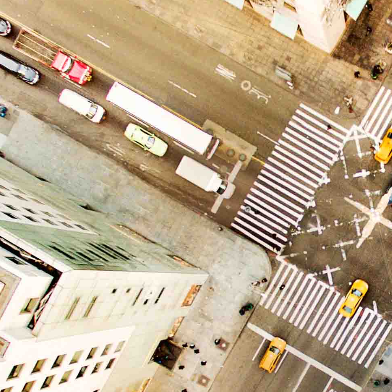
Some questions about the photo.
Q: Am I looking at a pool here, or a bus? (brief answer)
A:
bus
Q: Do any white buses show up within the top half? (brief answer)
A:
Yes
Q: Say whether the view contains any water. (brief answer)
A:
No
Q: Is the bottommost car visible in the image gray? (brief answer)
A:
No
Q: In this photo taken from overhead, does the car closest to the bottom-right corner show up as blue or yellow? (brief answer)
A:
yellow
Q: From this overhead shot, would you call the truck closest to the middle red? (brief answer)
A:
No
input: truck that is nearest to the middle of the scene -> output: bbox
[174,153,236,198]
